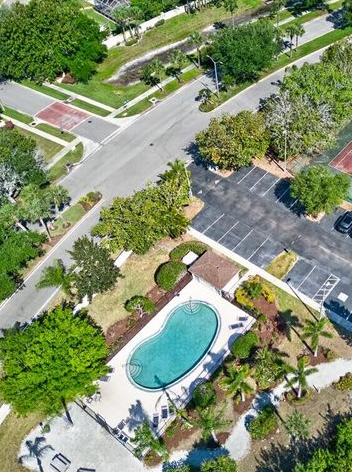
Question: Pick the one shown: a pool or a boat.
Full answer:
This aerial view contains a pool.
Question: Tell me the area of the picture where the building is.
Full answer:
The building appears toward the center of the photo.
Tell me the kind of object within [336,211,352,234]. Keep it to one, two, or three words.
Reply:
car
